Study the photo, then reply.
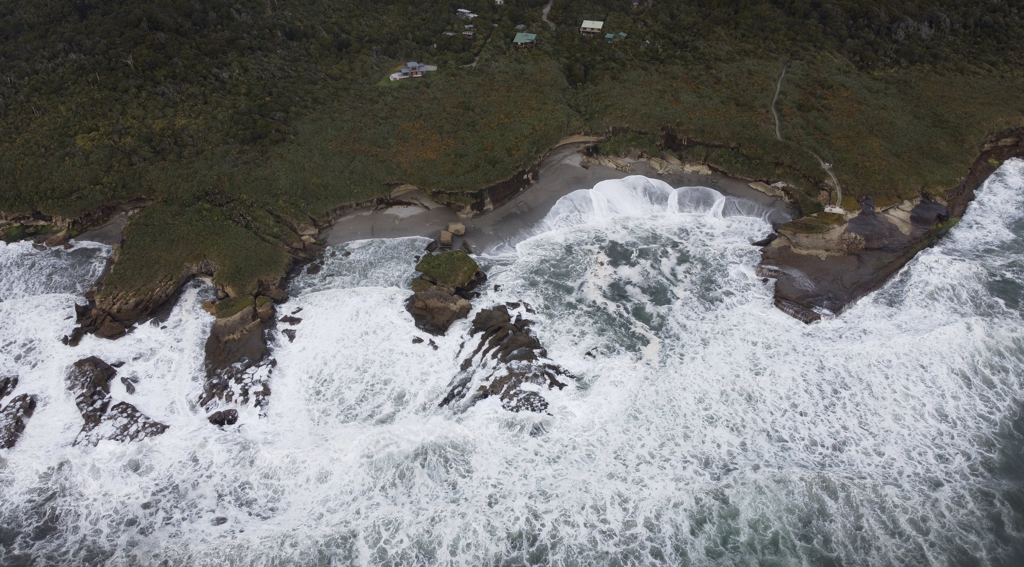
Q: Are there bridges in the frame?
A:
No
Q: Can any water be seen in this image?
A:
Yes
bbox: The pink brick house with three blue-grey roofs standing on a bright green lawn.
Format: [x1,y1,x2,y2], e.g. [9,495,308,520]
[399,64,430,83]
